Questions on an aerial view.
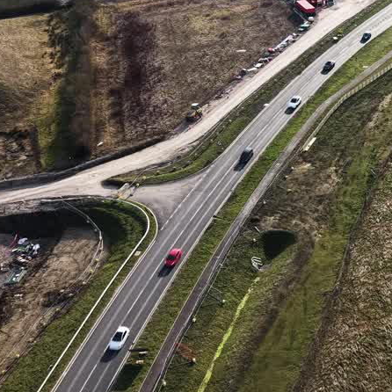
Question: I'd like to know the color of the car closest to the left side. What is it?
white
